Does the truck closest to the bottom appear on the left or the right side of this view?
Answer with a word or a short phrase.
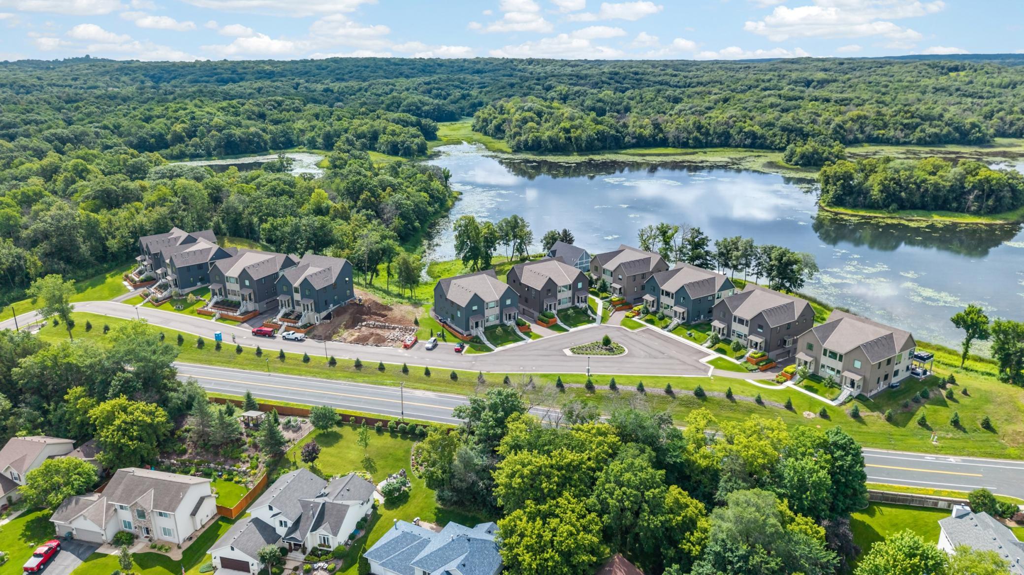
left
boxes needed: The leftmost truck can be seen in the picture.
[22,538,68,571]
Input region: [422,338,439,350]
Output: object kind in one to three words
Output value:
vehicle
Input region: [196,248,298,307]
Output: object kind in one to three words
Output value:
house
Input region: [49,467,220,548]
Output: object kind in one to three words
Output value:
house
